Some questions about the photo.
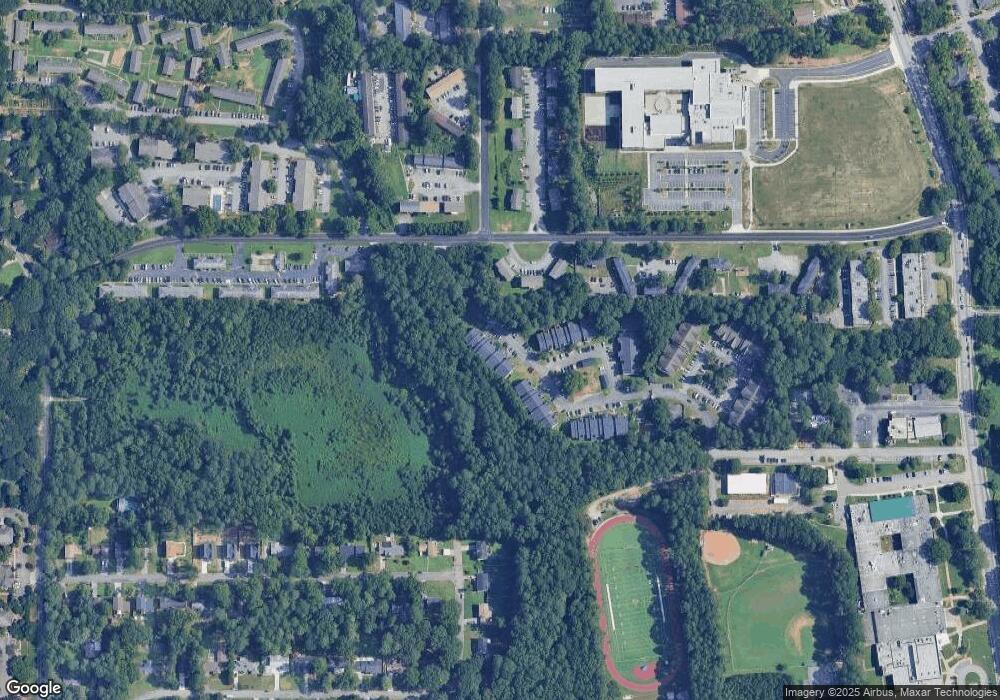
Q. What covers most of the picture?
trees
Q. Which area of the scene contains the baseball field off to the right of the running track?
bottom right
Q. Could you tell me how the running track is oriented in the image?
up and down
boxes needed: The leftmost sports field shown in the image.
[594,515,682,691]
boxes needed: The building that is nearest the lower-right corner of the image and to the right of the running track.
[851,494,951,700]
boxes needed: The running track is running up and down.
[594,515,682,691]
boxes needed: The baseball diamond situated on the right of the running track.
[702,531,811,671]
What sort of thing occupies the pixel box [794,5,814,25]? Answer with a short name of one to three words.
house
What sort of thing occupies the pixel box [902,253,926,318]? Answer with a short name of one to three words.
building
